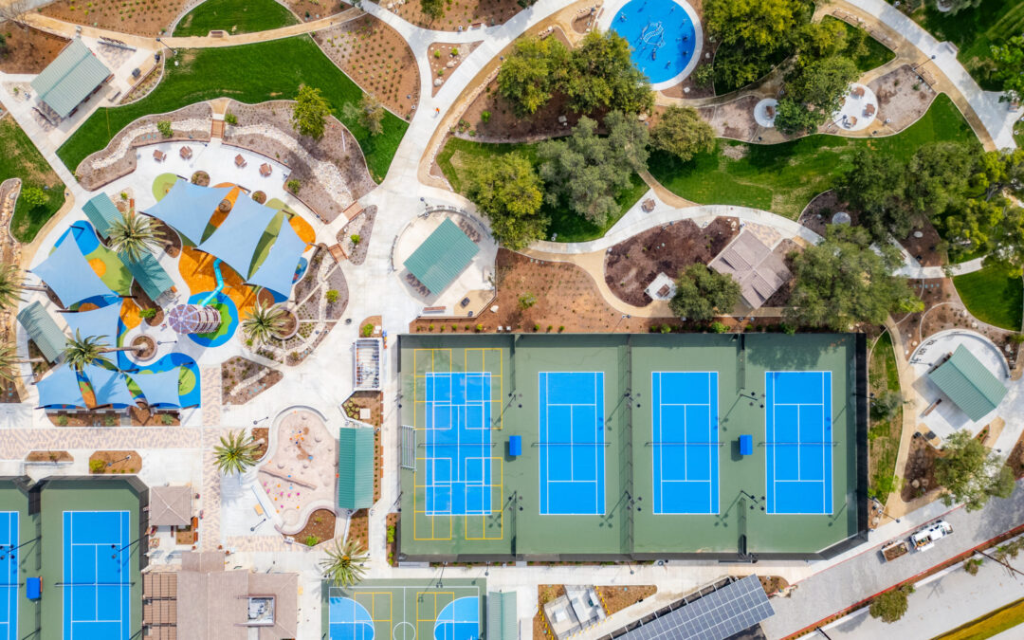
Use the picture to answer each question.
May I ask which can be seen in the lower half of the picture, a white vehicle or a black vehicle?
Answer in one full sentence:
You can see a white vehicle in the lower half of the picture.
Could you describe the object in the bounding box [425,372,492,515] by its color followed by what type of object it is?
blue tennis court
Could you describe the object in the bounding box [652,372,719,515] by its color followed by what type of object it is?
blue tennis court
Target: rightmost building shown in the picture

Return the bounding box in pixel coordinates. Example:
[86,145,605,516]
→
[924,343,1008,422]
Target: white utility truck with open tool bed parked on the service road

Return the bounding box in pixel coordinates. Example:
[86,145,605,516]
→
[911,522,958,553]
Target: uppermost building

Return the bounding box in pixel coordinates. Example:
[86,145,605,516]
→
[30,37,114,118]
